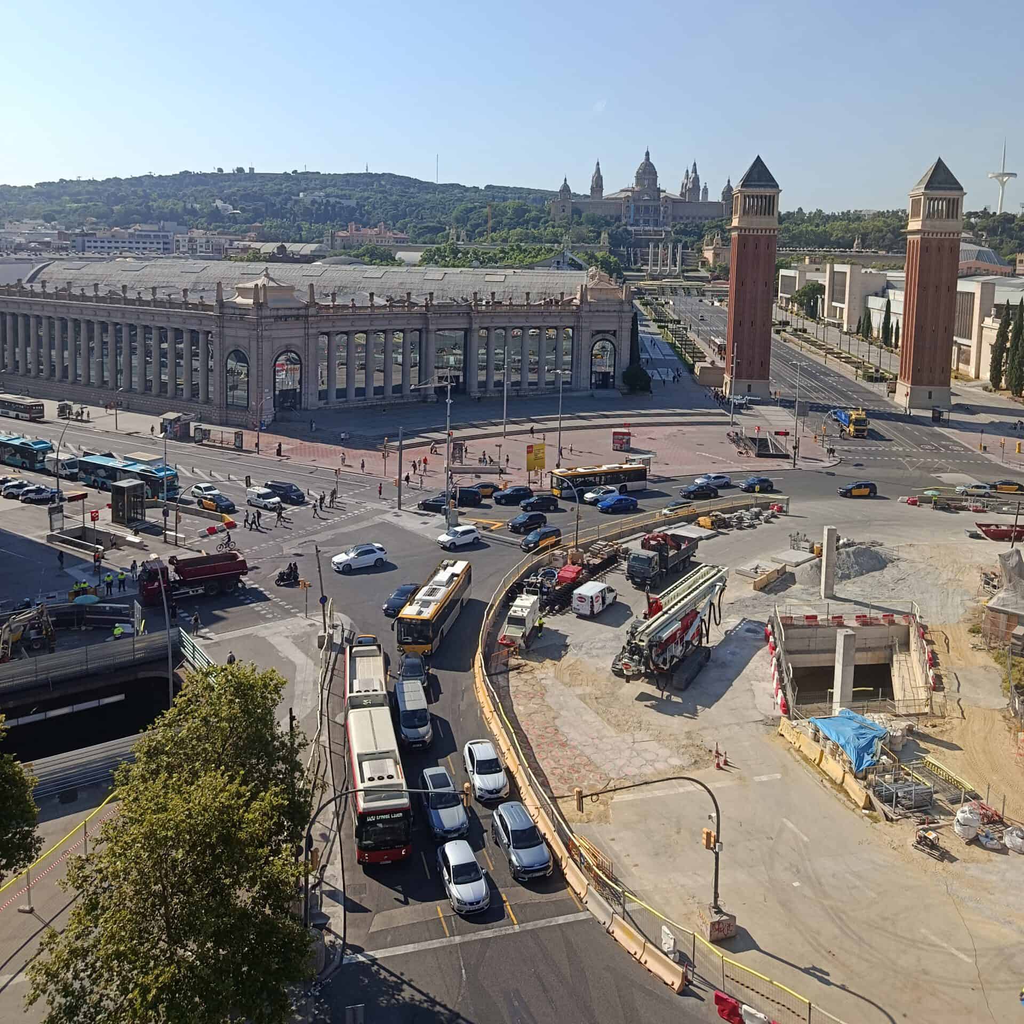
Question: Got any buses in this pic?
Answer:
Yes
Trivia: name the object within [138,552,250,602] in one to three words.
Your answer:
truck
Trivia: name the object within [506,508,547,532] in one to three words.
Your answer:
car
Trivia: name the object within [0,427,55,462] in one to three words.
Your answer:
bus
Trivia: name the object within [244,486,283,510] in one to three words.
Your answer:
vehicle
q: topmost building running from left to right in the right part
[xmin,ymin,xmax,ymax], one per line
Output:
[549,145,749,232]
